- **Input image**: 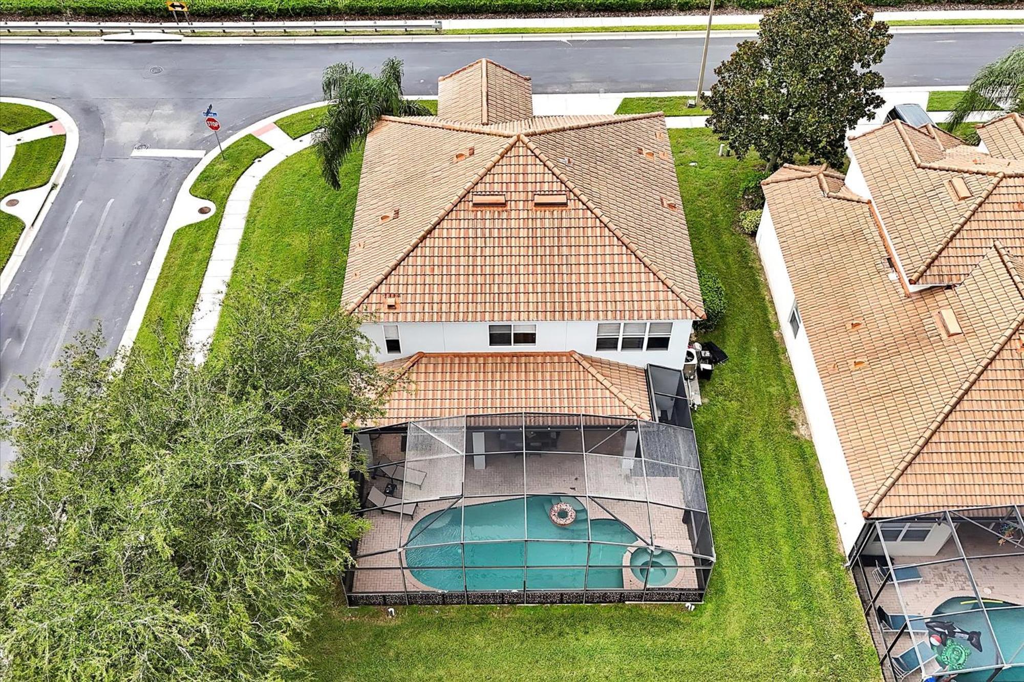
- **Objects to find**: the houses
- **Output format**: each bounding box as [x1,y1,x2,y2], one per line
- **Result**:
[757,105,1024,557]
[336,55,710,472]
